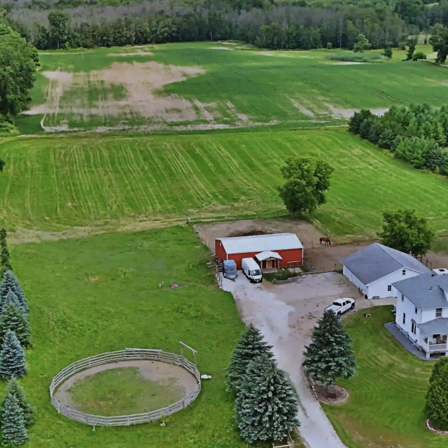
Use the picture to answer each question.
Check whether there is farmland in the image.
Yes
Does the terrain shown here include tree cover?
Yes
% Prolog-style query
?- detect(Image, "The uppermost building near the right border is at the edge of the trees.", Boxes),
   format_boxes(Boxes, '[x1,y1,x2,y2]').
[338,242,432,299]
